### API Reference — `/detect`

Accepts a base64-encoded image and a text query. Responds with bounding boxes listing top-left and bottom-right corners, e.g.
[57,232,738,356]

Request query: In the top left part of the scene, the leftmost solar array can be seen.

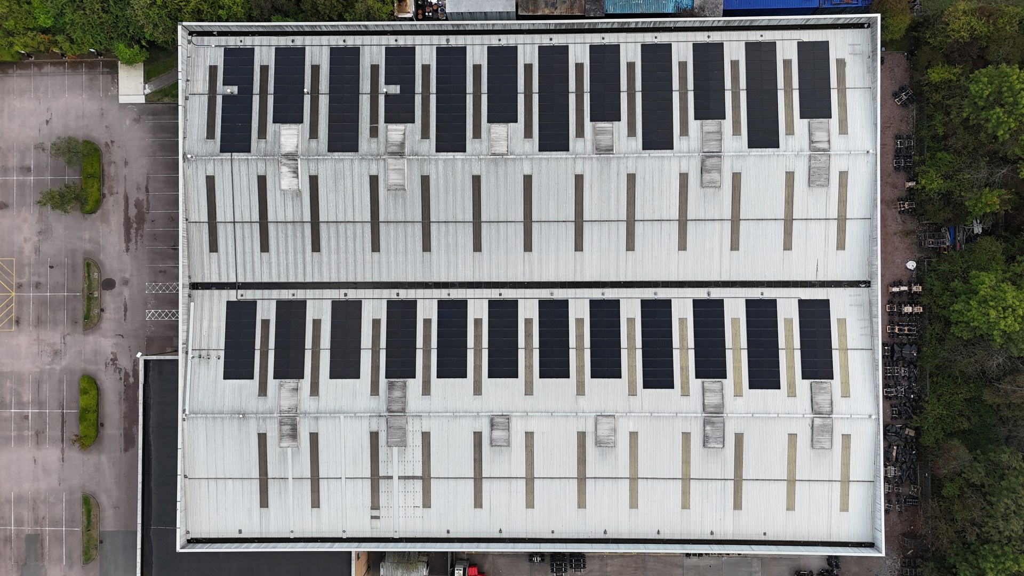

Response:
[220,48,254,152]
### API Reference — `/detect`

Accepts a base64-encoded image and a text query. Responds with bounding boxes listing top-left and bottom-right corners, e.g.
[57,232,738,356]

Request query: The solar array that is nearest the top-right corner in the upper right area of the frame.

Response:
[797,41,832,118]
